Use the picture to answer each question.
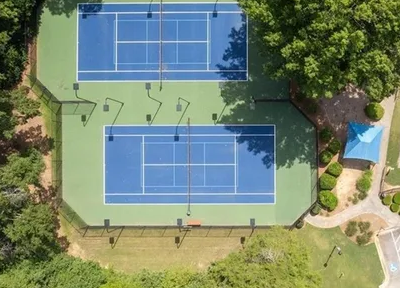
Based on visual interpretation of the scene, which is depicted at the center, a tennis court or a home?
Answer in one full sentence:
It is a tennis court that can be seen at the center.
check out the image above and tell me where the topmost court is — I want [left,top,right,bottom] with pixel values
[78,4,248,82]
